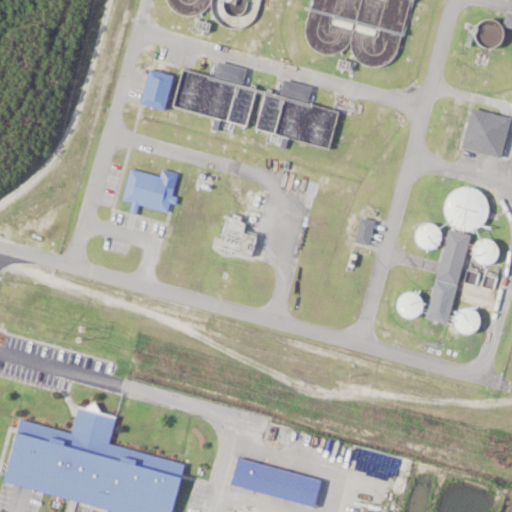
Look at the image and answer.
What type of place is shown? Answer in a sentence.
The picture captures an industrial area.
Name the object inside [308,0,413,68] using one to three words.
storage tank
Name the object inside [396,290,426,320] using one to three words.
storage tank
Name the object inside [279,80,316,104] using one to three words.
shed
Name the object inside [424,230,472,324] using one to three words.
building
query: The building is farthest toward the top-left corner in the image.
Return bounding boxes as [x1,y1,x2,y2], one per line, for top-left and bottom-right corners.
[139,68,176,112]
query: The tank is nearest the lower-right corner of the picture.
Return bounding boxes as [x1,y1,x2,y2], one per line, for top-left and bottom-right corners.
[450,306,482,336]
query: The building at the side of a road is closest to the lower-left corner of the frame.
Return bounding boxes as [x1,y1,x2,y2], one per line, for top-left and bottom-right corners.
[4,401,186,512]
